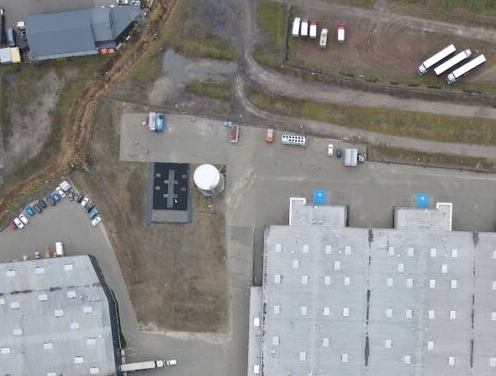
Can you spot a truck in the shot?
Yes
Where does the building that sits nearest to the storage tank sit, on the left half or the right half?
left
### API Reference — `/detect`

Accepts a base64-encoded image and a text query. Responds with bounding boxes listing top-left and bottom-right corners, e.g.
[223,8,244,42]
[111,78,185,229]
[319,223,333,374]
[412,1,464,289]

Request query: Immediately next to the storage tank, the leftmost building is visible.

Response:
[146,163,193,224]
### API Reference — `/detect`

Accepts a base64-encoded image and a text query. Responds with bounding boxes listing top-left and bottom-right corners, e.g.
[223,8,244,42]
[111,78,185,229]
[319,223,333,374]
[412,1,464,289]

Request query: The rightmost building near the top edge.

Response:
[92,2,146,48]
